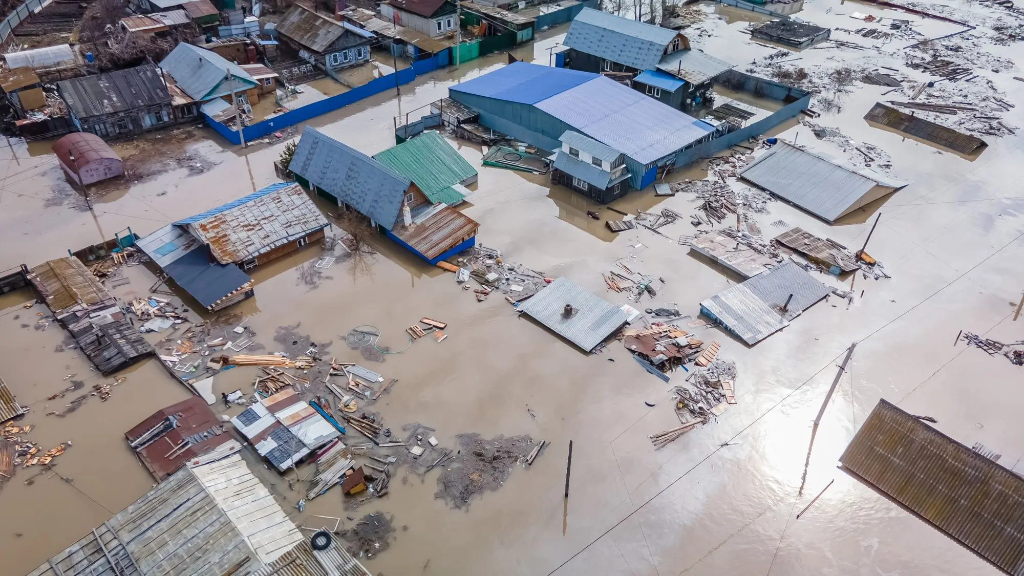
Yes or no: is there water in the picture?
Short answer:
Yes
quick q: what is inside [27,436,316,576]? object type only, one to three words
house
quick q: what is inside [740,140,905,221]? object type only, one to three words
house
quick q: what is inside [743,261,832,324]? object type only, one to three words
shed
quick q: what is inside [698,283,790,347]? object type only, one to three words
shed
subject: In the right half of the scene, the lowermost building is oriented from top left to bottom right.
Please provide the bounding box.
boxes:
[838,396,1024,576]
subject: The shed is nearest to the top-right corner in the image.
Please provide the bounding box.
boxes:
[863,103,982,157]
